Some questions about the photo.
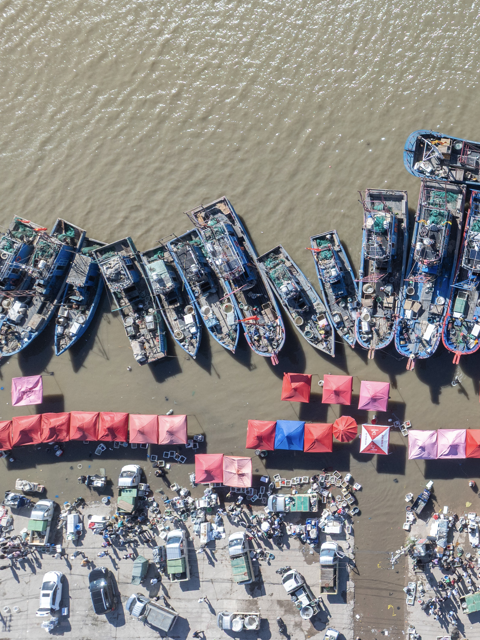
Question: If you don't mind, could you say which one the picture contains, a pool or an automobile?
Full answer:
It is an automobile that can be seen here.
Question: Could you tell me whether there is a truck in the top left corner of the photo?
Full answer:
No, no truck is visible in the top left corner of the photo.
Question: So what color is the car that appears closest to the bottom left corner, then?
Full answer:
From above, the car that appears closest to the bottom left corner appears white.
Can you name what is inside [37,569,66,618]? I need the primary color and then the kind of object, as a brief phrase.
white car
